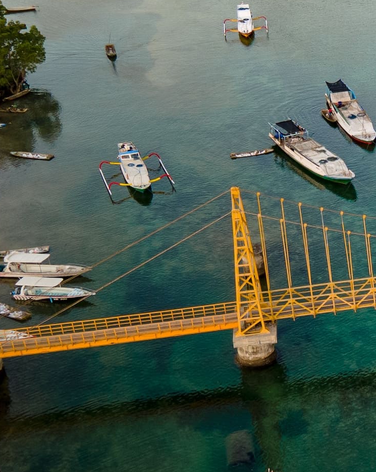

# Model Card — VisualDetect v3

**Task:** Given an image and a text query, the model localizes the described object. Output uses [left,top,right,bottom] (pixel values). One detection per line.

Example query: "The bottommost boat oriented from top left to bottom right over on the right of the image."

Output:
[260,119,355,187]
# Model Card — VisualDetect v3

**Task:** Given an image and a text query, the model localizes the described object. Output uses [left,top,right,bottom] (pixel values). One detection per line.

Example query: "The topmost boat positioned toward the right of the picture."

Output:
[222,4,270,39]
